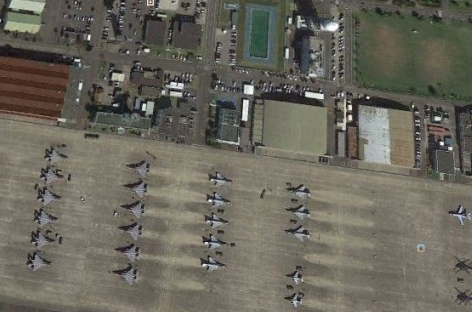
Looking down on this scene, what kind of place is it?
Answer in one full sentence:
This looks like an airport.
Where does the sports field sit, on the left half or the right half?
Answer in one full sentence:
The sports field is on the right side of the image.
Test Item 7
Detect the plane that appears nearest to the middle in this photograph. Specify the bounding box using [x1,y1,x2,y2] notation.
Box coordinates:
[209,173,227,187]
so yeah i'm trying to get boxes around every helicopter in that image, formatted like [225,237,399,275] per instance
[459,290,472,305]
[457,260,472,274]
